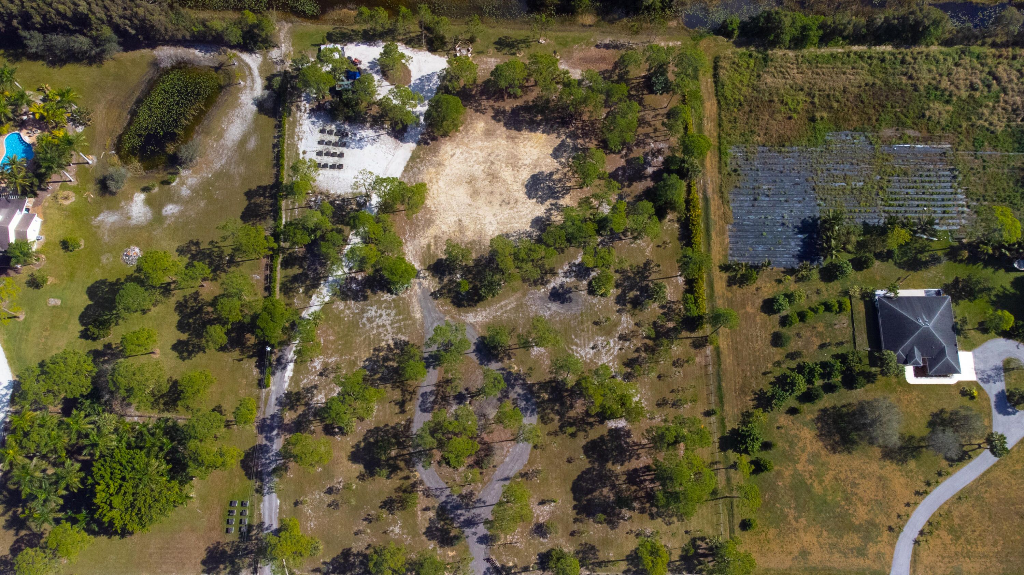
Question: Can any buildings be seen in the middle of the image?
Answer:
No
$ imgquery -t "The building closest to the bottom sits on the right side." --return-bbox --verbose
[875,296,963,375]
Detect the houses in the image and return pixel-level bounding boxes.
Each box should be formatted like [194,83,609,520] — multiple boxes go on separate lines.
[0,196,43,259]
[875,296,963,375]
